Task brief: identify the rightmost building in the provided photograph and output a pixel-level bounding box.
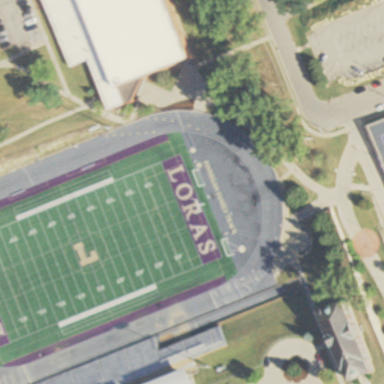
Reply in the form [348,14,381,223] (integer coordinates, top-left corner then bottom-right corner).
[318,302,372,382]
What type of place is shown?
sports ground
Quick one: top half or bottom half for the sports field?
bottom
